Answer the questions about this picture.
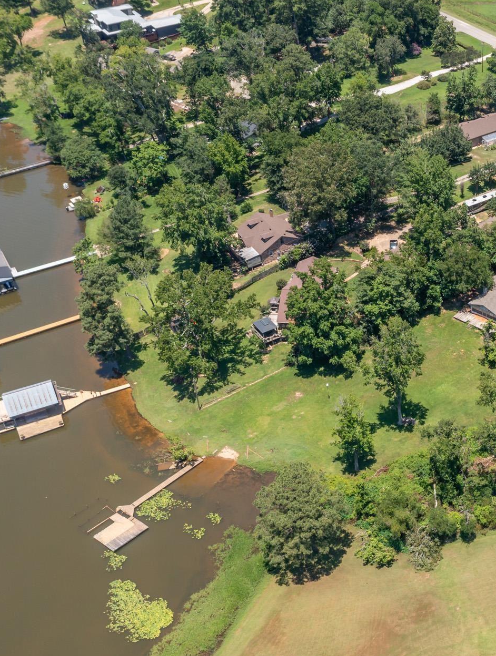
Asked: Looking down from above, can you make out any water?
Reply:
Yes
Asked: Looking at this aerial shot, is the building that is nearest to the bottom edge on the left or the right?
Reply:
left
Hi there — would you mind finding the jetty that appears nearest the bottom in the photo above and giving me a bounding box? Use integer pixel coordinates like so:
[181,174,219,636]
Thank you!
[78,457,204,553]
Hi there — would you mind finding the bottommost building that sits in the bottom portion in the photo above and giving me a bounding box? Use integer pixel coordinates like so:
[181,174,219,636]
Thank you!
[0,377,132,442]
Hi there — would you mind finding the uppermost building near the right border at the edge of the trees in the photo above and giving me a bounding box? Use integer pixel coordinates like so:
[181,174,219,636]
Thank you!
[439,112,496,148]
